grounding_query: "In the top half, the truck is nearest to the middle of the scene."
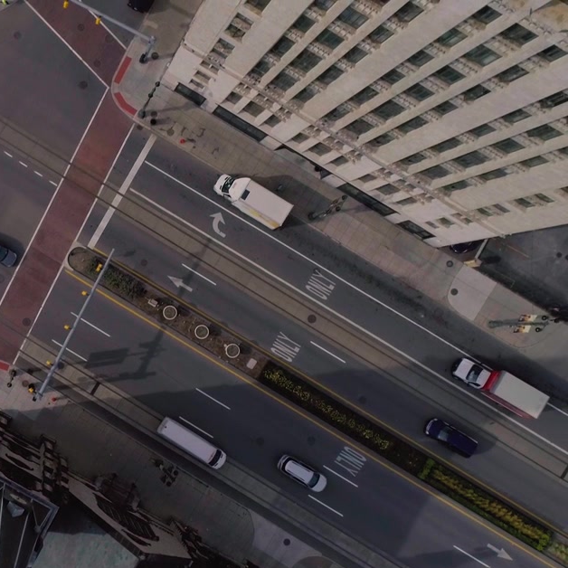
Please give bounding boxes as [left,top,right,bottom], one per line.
[213,175,293,229]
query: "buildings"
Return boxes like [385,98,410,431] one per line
[162,0,568,249]
[0,406,207,568]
